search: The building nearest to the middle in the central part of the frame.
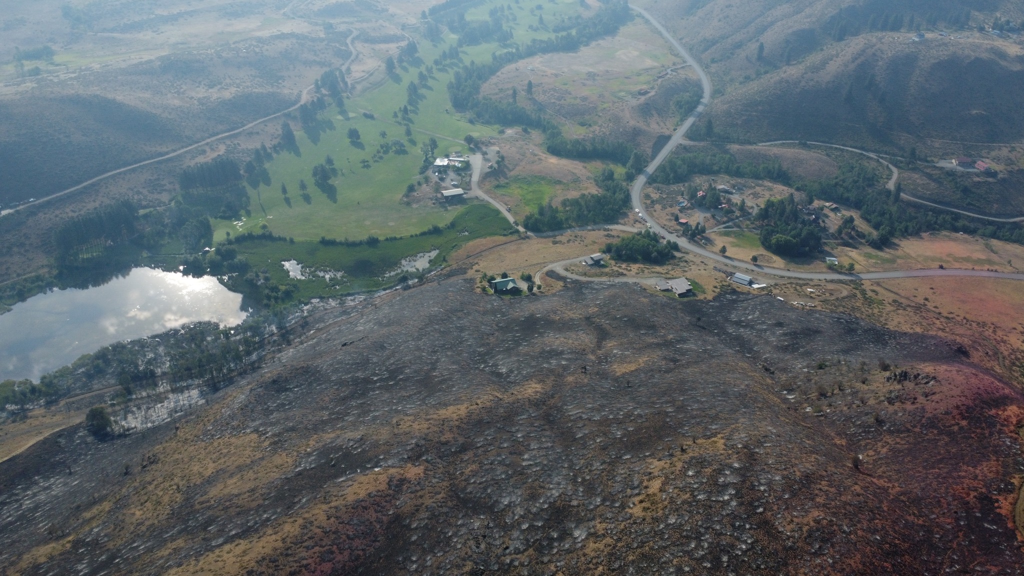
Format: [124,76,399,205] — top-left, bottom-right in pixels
[491,277,522,296]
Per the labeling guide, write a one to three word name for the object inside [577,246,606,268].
house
